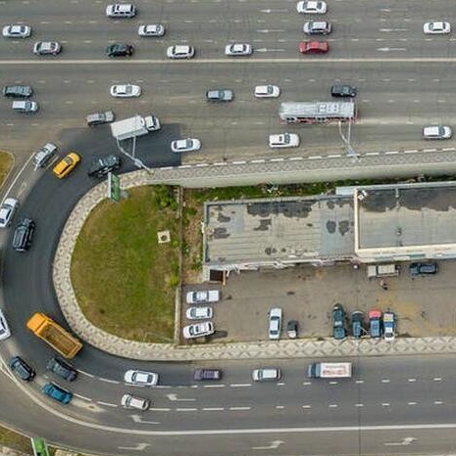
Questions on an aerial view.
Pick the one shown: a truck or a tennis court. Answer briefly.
truck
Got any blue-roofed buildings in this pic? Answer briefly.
No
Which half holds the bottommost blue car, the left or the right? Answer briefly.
left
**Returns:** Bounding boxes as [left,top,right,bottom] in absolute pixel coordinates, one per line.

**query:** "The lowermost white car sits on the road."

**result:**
[121,394,153,410]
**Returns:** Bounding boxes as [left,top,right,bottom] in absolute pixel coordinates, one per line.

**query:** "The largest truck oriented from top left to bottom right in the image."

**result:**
[28,314,80,357]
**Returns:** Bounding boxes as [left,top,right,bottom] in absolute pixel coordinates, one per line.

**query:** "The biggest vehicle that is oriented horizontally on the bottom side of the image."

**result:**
[309,363,353,379]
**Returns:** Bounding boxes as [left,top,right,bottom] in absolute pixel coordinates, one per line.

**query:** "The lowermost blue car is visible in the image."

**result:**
[42,382,75,405]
